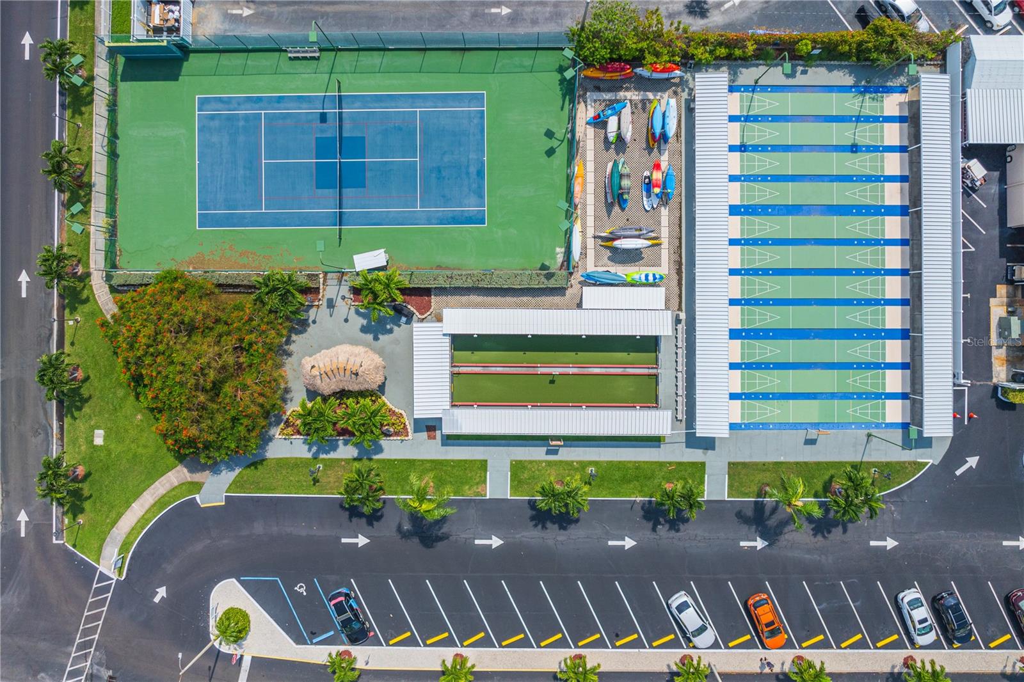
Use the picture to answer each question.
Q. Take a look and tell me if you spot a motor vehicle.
Yes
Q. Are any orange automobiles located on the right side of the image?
Yes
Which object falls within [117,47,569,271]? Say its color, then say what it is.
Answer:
green tennis court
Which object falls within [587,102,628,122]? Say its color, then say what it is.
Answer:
blue boat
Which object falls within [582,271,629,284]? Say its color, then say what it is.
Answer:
blue boat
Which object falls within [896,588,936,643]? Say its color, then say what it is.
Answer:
white car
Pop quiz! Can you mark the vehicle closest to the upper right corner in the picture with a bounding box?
[968,0,1012,31]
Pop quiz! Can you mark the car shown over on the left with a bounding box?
[329,589,371,641]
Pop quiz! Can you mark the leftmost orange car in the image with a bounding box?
[748,593,785,645]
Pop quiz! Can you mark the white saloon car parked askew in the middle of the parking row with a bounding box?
[669,591,712,646]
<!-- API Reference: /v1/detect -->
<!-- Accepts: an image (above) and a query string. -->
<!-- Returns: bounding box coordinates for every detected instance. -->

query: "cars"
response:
[896,588,936,643]
[669,591,712,646]
[933,590,975,643]
[329,589,371,641]
[968,0,1012,31]
[881,0,928,35]
[748,593,785,645]
[1009,587,1024,635]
